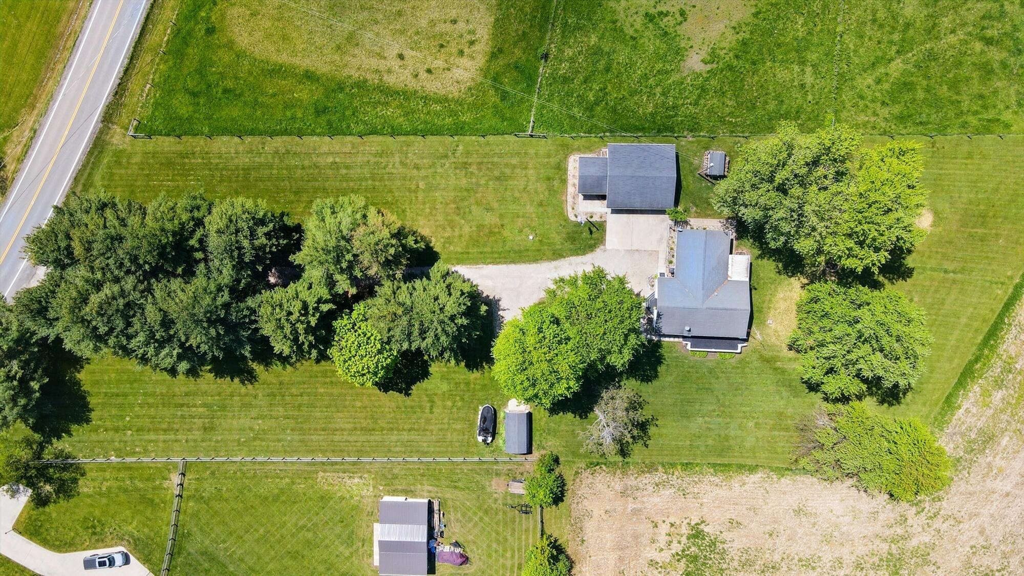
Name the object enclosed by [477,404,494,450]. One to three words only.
boat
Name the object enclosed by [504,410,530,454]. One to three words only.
shed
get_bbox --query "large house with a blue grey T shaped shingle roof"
[646,229,751,354]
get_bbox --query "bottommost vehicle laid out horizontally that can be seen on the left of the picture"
[83,549,127,569]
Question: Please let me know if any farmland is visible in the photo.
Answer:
Yes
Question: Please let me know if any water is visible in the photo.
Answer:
No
